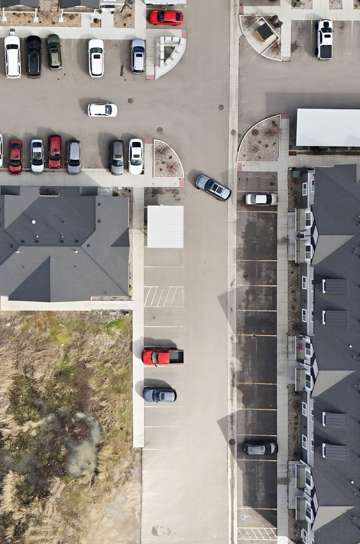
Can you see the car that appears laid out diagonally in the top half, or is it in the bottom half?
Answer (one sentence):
The car that appears laid out diagonally is in the top half of the image.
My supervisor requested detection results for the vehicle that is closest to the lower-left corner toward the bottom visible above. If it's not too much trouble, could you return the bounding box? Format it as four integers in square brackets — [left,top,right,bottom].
[143,386,177,404]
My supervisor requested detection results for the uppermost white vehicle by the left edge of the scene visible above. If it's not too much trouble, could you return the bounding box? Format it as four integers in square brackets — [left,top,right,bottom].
[4,36,22,79]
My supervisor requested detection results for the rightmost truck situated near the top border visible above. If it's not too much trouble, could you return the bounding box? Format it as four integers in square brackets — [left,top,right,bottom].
[315,19,336,61]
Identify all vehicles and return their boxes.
[7,139,23,175]
[147,8,184,27]
[45,34,63,70]
[130,38,147,74]
[194,173,232,203]
[87,39,106,78]
[109,139,126,175]
[141,348,185,367]
[46,135,63,170]
[65,139,82,175]
[243,190,278,207]
[24,35,43,78]
[143,386,177,404]
[128,138,145,176]
[28,138,45,174]
[86,102,118,118]
[142,0,178,6]
[242,439,278,458]
[315,19,336,61]
[4,36,22,79]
